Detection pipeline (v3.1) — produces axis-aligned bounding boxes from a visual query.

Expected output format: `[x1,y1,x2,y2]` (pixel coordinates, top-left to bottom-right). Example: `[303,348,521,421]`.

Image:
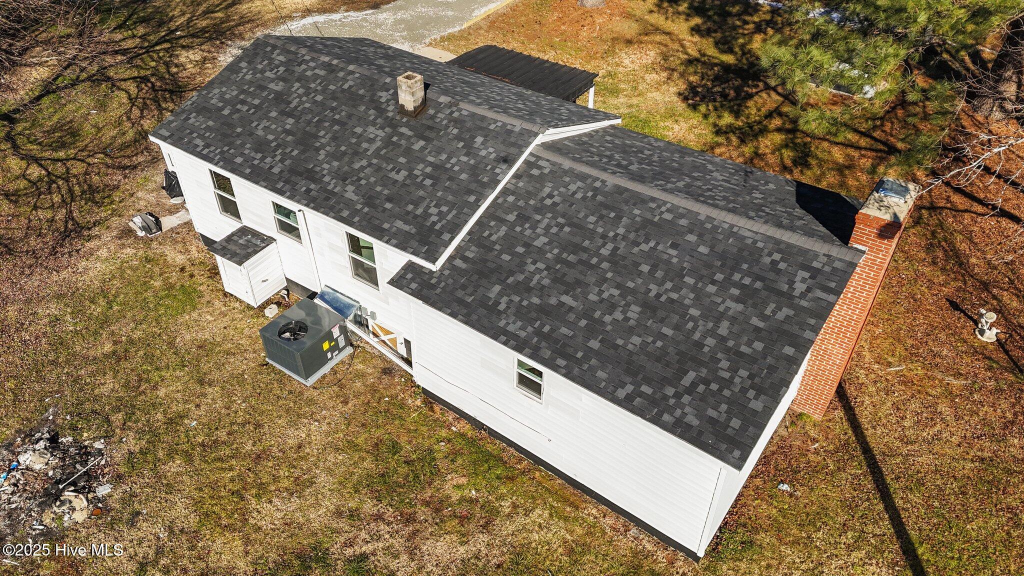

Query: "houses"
[155,34,926,558]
